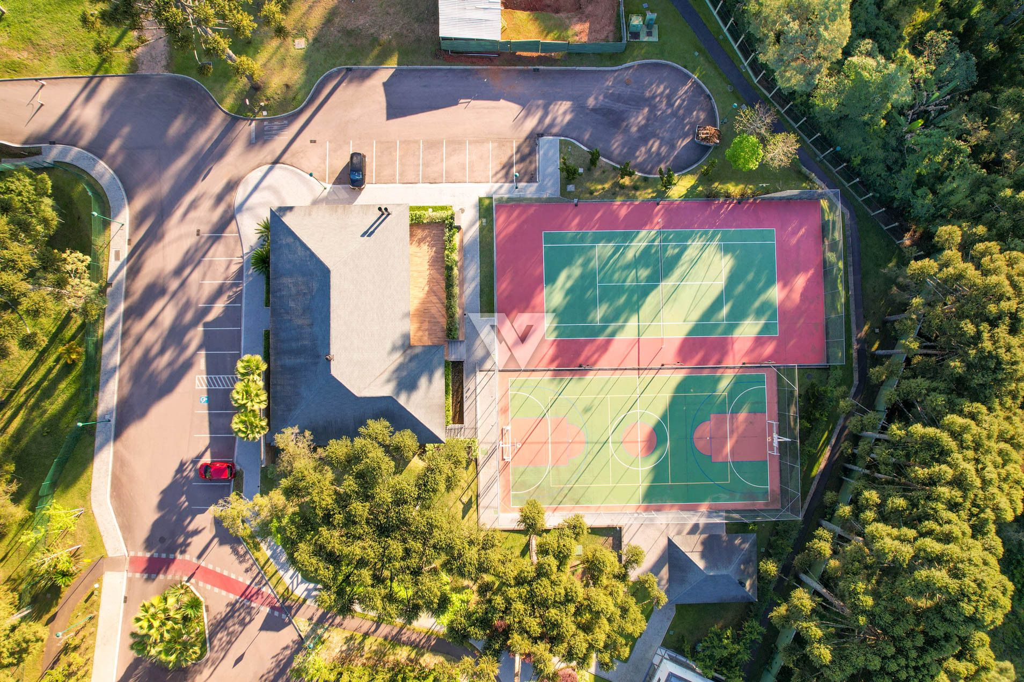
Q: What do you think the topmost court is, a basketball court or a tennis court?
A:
tennis court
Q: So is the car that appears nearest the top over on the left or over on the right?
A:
left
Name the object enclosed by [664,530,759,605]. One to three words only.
building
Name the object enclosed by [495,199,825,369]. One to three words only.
tennis court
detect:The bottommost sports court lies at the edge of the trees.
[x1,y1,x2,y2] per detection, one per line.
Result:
[499,368,780,513]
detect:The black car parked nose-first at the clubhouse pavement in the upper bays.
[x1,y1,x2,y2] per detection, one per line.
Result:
[346,149,367,189]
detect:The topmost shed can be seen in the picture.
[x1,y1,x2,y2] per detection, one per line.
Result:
[438,0,503,43]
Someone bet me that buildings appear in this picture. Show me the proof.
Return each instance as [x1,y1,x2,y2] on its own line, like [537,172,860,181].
[269,203,446,448]
[664,530,759,605]
[636,641,748,682]
[438,0,503,43]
